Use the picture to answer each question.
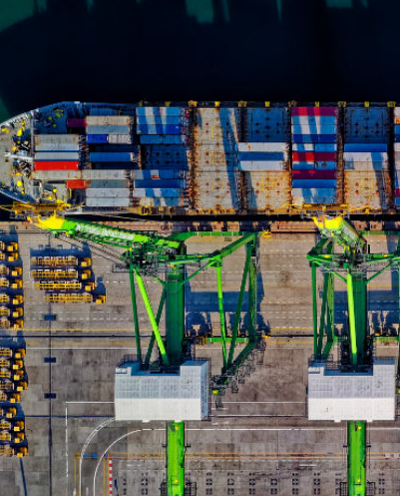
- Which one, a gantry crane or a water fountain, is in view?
gantry crane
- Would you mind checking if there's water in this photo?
Yes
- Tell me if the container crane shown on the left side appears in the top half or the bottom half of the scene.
bottom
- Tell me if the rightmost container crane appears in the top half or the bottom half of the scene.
bottom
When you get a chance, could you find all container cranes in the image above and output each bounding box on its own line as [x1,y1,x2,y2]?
[283,198,400,496]
[4,198,275,496]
